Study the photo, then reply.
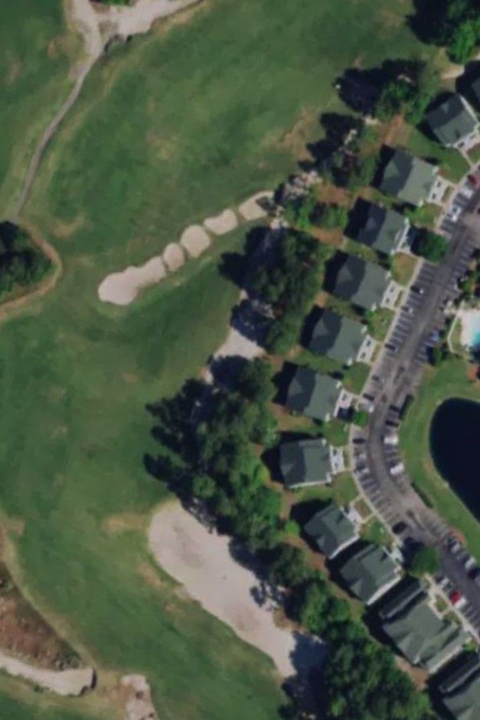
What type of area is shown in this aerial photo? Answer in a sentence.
The area seen from above is a golf course.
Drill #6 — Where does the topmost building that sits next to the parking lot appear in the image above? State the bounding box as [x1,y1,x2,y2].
[427,96,480,152]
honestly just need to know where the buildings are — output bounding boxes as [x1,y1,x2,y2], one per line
[446,658,480,720]
[343,544,406,604]
[309,309,374,365]
[357,203,417,257]
[384,584,469,673]
[335,257,399,313]
[305,502,364,558]
[286,367,352,422]
[281,439,341,488]
[427,96,480,152]
[380,149,445,209]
